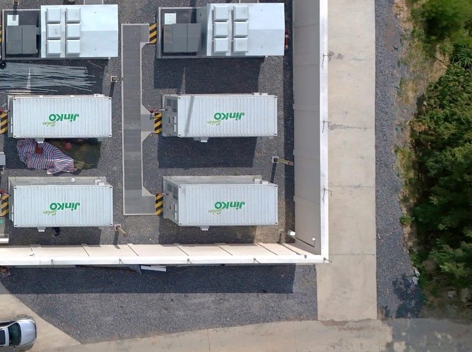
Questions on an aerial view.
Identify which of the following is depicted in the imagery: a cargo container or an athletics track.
cargo container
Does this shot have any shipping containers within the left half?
Yes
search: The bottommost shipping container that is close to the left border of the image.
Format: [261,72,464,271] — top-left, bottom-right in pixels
[6,174,113,232]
